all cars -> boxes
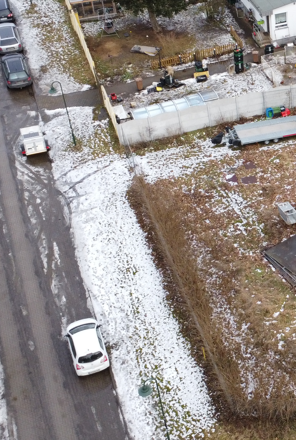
[0,0,16,21]
[0,50,34,90]
[0,20,24,55]
[60,312,110,376]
